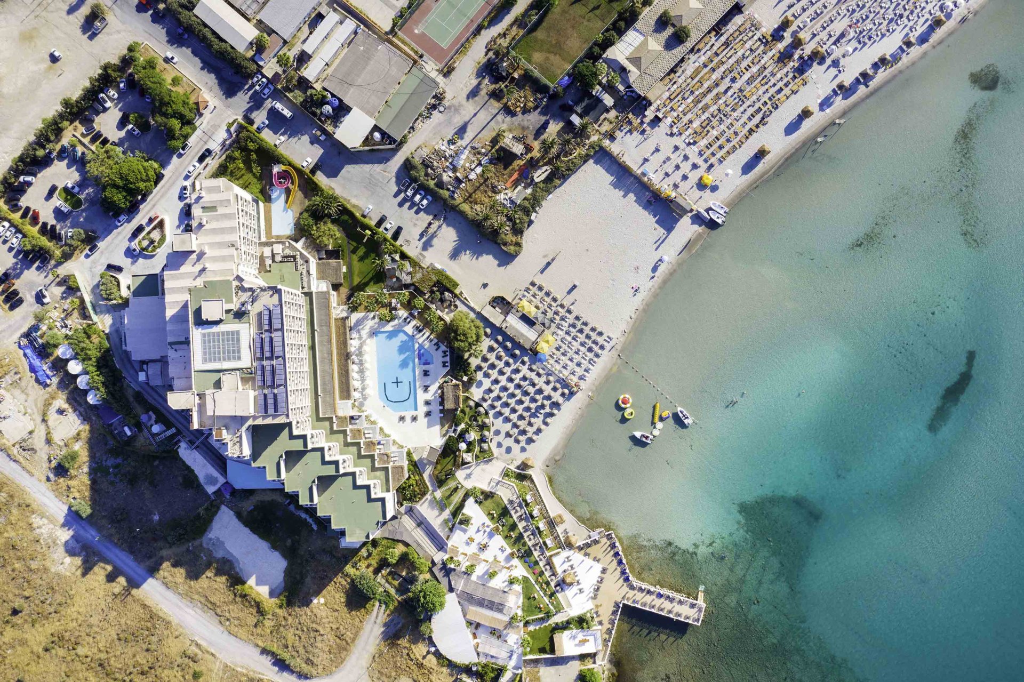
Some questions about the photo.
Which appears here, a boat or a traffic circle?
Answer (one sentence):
Visible in the photo is a boat.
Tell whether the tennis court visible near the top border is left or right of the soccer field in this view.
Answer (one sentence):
Looking at the photo, the tennis court visible near the top border lies to the left of the soccer field.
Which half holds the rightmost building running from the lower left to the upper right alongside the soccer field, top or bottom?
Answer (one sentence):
The rightmost building running from the lower left to the upper right alongside the soccer field sits in the top half of the picture.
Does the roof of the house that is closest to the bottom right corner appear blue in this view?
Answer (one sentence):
No, the roof of the house that is closest to the bottom right corner is actually white.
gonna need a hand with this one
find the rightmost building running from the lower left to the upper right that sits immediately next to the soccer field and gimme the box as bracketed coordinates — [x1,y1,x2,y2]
[603,0,738,98]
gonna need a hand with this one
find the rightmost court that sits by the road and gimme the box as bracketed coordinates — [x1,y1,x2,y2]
[394,0,497,66]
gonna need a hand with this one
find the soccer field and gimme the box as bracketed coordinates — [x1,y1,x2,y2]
[512,0,631,86]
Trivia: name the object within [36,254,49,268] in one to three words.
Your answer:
vehicle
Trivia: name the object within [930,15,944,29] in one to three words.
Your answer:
gazebo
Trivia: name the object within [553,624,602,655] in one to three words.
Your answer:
house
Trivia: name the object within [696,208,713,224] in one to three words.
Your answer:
boat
